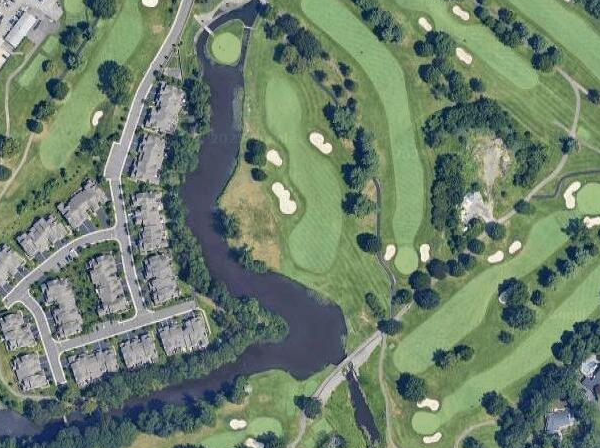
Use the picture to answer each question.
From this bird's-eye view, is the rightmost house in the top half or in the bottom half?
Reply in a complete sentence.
Seen from above, the rightmost house lies in the bottom half of the view.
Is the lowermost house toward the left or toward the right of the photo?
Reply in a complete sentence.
The lowermost house sits on the right side.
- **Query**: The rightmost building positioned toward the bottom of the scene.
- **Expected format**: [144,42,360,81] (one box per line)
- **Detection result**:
[580,372,600,401]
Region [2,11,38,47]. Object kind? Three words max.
shed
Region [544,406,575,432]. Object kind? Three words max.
house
